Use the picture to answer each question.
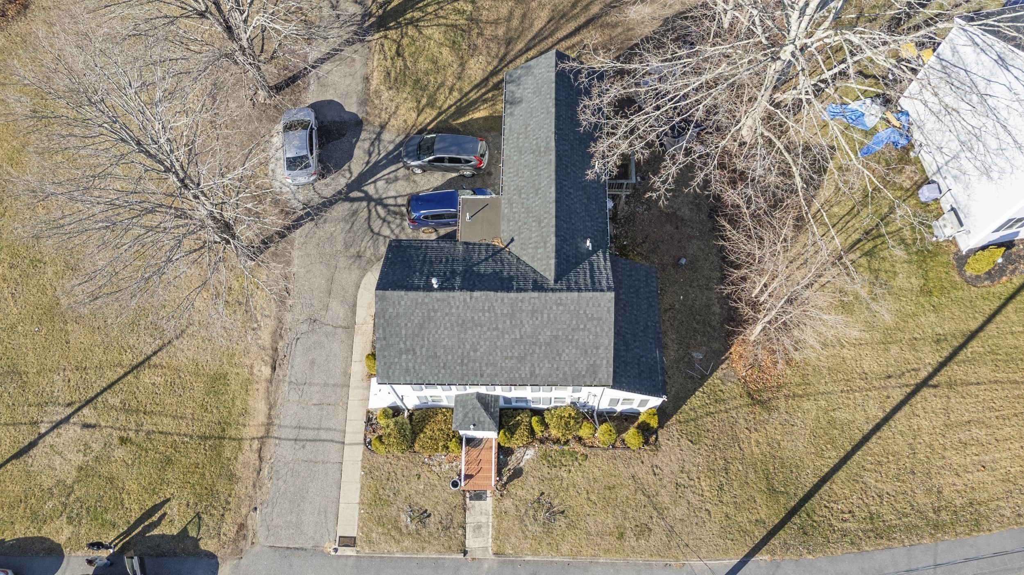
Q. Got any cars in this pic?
Yes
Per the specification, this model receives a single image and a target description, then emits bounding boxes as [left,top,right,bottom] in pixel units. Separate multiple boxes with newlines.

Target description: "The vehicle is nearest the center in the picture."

[405,182,492,232]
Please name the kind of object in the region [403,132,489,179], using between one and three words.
car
